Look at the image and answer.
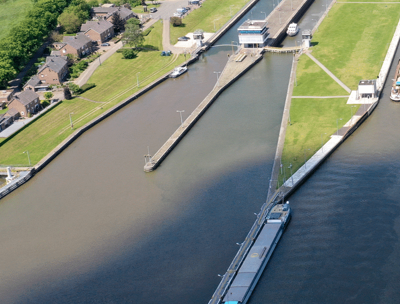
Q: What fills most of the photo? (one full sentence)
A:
For the most part, this view shows water.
